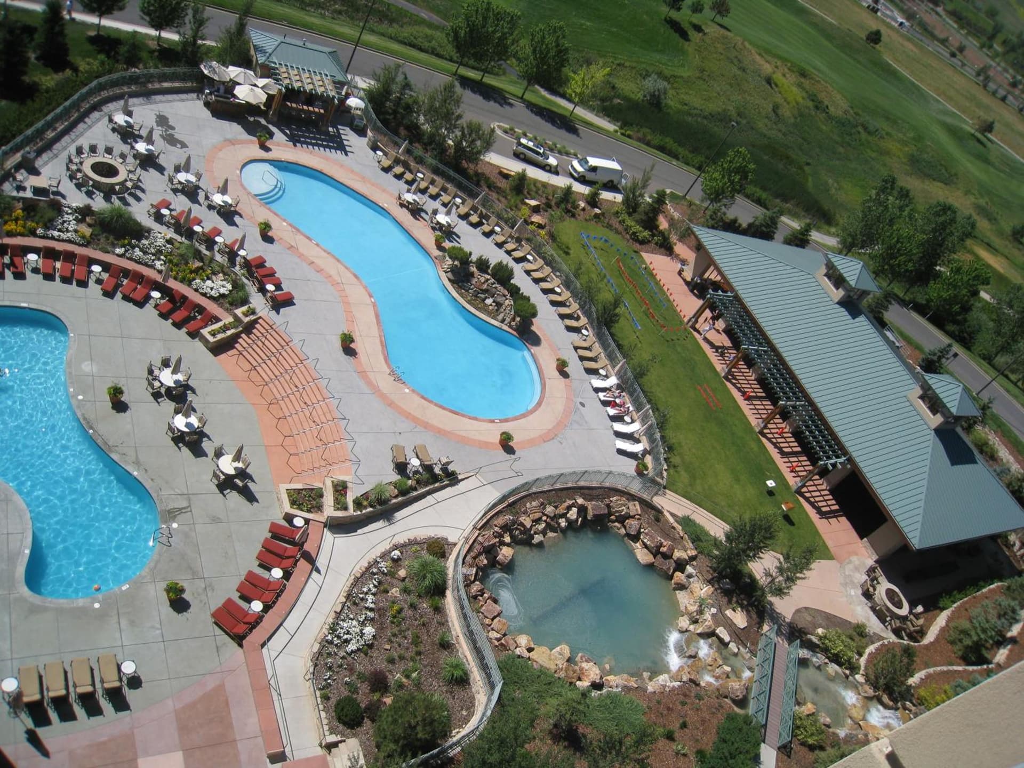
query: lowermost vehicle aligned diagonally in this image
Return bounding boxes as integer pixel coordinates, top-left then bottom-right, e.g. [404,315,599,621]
[513,135,558,170]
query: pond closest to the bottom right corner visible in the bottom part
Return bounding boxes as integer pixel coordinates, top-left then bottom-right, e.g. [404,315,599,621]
[478,516,688,691]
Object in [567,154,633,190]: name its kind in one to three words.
van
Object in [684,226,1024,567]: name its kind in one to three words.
building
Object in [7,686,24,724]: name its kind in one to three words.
umbrella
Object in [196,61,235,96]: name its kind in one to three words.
umbrella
